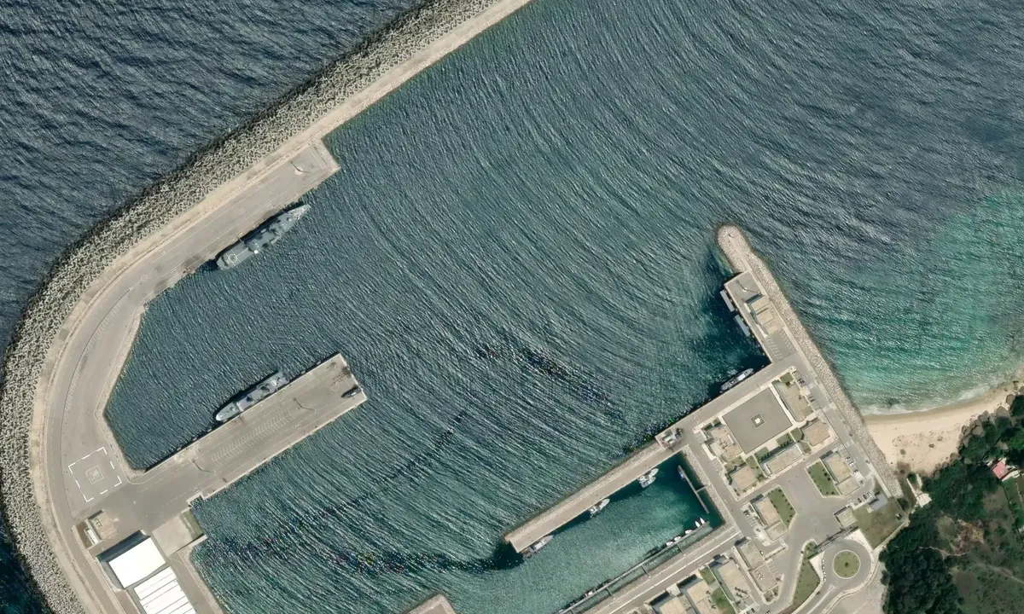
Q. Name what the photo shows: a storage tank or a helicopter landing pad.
helicopter landing pad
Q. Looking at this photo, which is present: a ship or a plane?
ship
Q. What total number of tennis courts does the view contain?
zero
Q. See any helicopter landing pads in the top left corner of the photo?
No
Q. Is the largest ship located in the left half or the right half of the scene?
left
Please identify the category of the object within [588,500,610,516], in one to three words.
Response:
boat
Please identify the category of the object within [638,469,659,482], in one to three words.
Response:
boat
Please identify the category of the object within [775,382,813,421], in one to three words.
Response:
building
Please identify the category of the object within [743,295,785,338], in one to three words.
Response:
building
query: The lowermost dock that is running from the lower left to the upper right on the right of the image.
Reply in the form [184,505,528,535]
[555,522,709,614]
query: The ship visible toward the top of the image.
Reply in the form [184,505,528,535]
[215,206,311,272]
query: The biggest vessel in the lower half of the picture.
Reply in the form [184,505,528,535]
[215,373,287,419]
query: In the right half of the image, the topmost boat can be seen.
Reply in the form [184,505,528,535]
[720,370,754,391]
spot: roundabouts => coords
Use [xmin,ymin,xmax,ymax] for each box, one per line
[825,542,869,587]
